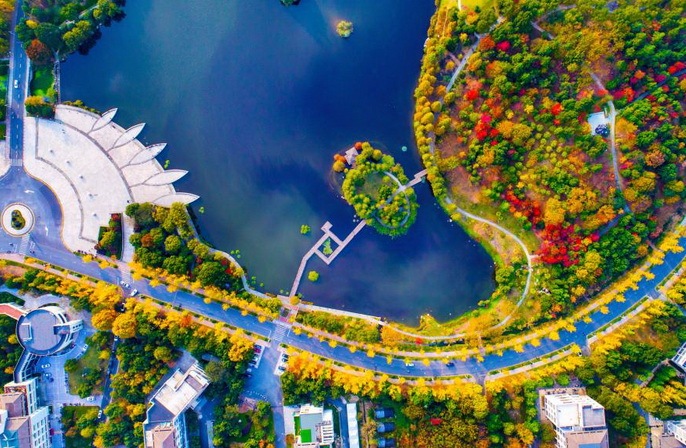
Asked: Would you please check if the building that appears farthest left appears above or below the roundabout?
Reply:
below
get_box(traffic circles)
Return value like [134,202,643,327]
[1,203,34,236]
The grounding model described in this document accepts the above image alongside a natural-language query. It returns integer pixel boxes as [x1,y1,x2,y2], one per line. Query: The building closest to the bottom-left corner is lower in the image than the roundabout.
[0,348,53,448]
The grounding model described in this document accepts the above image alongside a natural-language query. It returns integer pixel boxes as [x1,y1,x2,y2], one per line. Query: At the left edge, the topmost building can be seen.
[16,299,96,355]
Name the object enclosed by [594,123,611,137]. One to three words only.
gazebo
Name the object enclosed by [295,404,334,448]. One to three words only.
building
